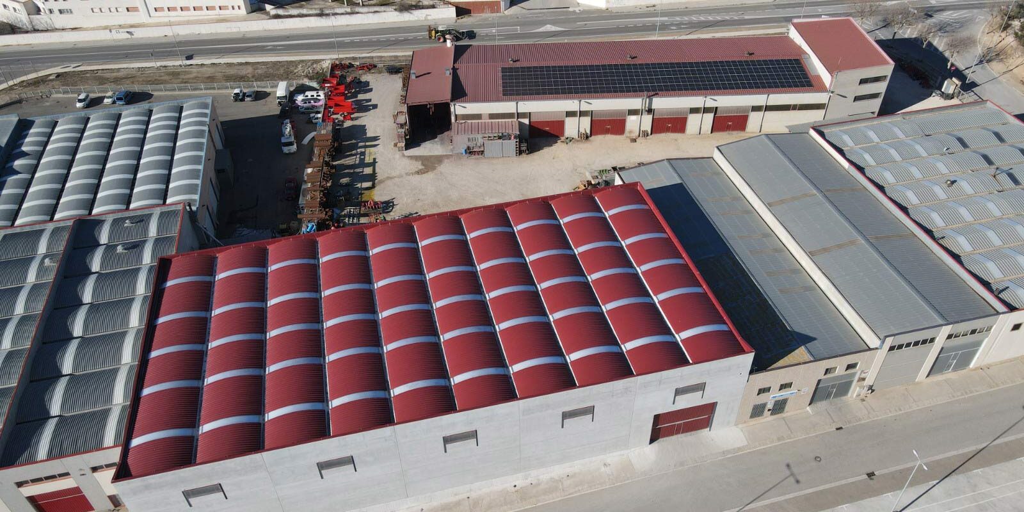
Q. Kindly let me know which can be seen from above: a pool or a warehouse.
warehouse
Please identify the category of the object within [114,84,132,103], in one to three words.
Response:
car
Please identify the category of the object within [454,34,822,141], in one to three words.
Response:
building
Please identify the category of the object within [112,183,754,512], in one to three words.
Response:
warehouse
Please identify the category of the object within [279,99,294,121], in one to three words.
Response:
vehicle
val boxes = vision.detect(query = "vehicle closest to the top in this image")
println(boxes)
[429,23,470,41]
